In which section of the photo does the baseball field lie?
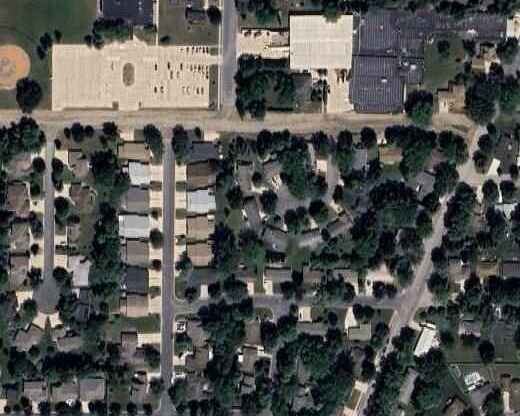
top left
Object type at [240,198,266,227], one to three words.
house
